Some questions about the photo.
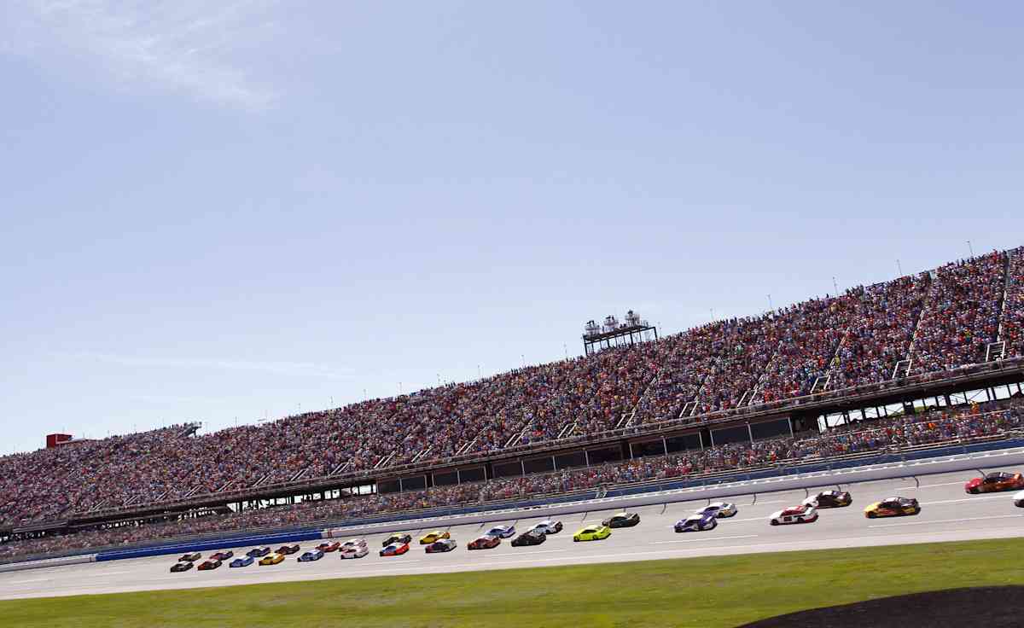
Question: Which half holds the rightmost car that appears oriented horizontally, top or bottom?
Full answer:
The rightmost car that appears oriented horizontally sits in the bottom half of the picture.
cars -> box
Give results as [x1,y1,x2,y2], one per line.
[804,489,851,508]
[574,525,611,541]
[866,498,919,518]
[696,501,737,517]
[381,543,409,556]
[770,505,817,525]
[259,553,284,565]
[171,562,193,572]
[247,546,270,557]
[425,539,456,553]
[275,543,300,554]
[603,513,640,528]
[968,472,1024,493]
[383,533,411,546]
[230,556,253,567]
[340,539,367,551]
[341,546,369,559]
[484,525,517,537]
[210,551,233,561]
[512,532,546,547]
[179,552,200,562]
[421,530,450,544]
[298,549,324,561]
[675,515,717,532]
[315,540,341,552]
[529,519,563,533]
[199,560,221,570]
[468,535,501,550]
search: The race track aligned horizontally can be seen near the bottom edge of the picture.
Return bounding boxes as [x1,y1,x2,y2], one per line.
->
[0,464,1024,598]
